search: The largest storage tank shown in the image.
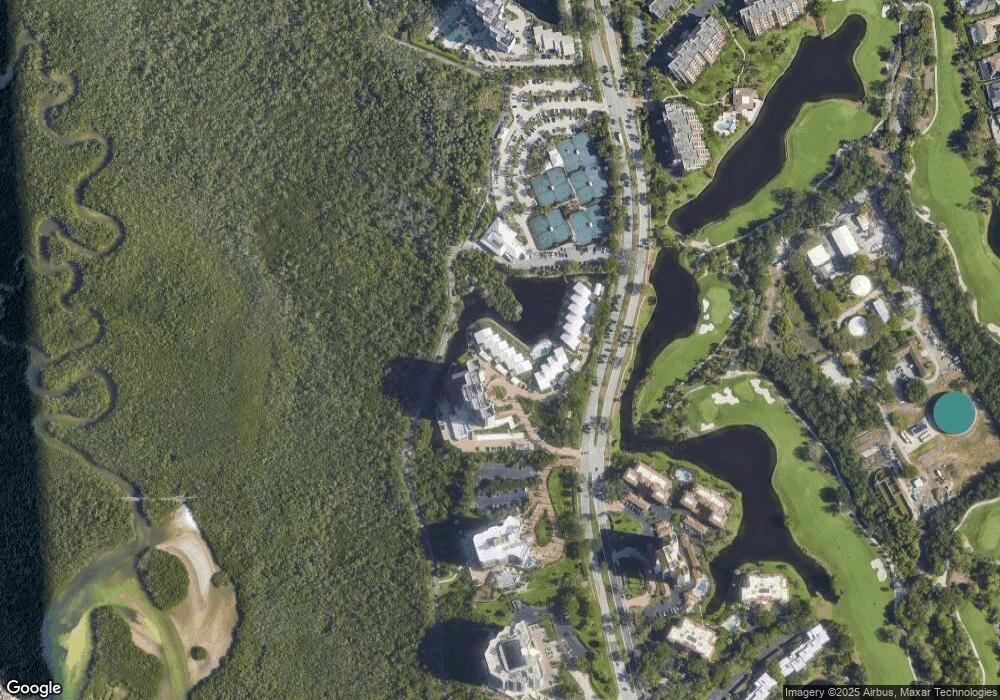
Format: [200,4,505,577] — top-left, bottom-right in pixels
[934,391,976,434]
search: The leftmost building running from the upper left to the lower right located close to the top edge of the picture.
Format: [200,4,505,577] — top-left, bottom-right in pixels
[475,0,516,53]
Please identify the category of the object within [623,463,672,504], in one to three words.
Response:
building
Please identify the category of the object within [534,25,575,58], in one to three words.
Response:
building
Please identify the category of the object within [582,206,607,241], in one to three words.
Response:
tennis court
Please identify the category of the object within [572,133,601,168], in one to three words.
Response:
tennis court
